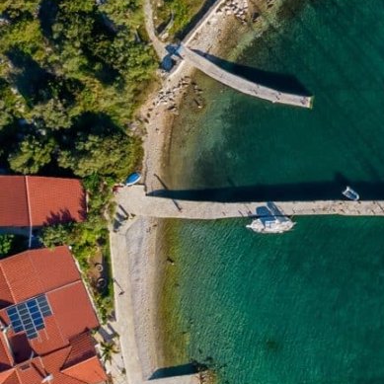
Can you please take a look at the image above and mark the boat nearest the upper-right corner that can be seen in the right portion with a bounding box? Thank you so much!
[342,184,358,196]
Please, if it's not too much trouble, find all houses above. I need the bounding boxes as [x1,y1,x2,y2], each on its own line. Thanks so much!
[0,175,90,228]
[0,245,112,384]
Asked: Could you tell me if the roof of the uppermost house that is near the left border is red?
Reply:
Yes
